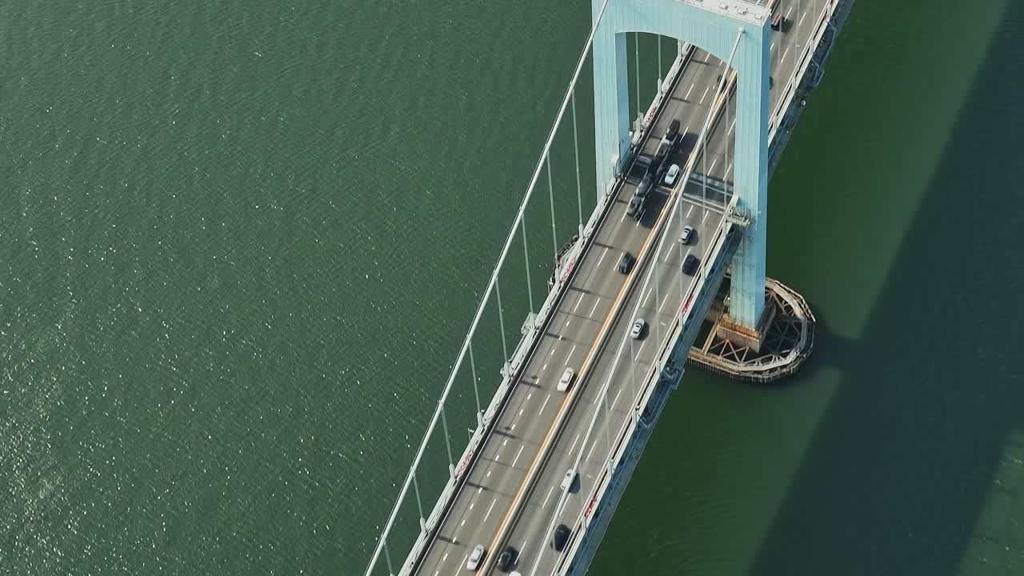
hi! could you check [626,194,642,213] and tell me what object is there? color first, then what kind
gray car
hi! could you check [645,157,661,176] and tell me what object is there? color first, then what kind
black car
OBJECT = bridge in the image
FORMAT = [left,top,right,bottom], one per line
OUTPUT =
[363,0,858,576]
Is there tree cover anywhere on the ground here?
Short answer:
No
